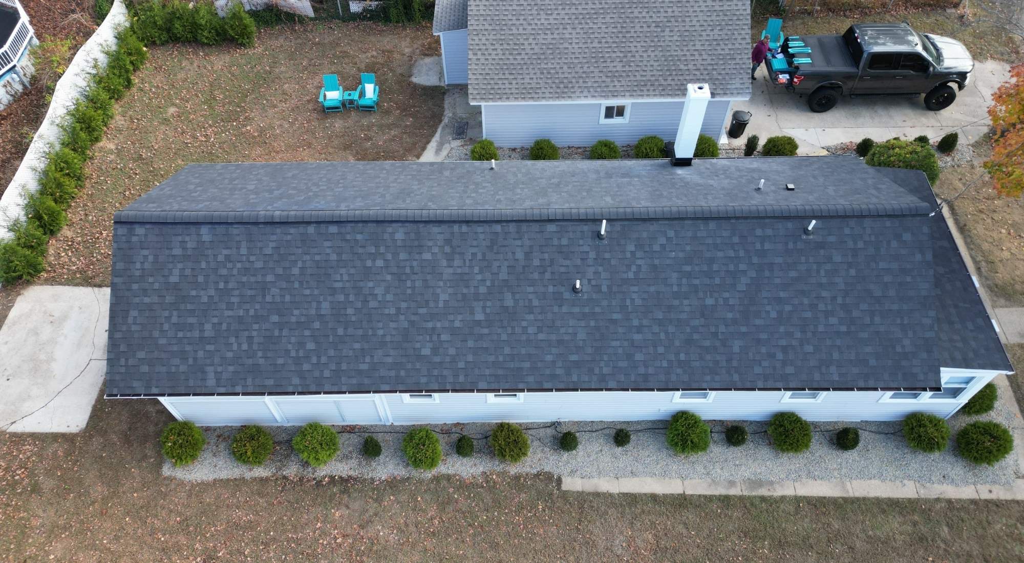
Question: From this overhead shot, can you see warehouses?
No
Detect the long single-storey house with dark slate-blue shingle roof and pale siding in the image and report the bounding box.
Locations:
[106,84,1014,427]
